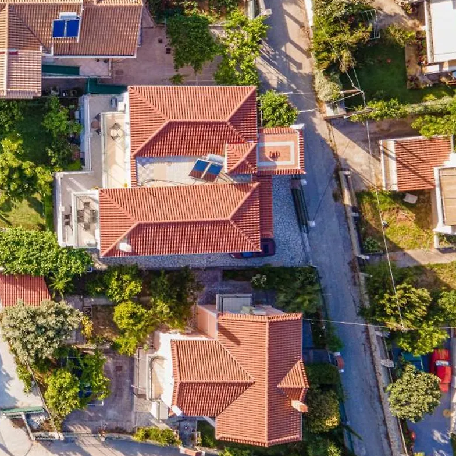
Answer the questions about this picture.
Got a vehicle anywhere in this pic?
Yes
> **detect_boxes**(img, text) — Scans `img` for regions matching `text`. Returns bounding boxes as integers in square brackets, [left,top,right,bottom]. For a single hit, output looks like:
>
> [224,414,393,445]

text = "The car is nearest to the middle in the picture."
[226,239,276,264]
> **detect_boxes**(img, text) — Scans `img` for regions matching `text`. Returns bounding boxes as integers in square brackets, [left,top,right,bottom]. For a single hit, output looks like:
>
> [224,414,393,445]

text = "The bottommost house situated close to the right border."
[364,134,456,249]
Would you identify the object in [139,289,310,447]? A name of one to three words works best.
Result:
house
